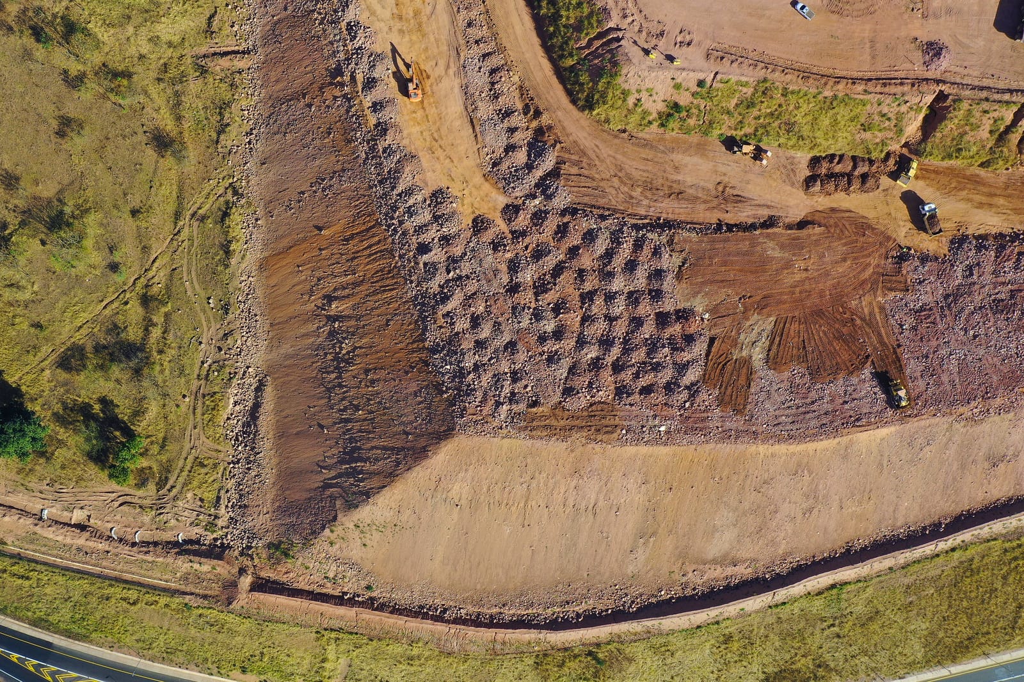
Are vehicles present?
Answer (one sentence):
Yes, you can see a vehicle in this photo.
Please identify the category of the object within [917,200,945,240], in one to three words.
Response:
truck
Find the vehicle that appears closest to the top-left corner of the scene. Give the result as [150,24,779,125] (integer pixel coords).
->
[407,57,426,105]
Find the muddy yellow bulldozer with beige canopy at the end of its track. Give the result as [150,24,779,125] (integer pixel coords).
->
[885,381,912,408]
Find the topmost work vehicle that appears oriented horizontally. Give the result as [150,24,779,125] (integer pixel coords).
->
[731,142,768,160]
